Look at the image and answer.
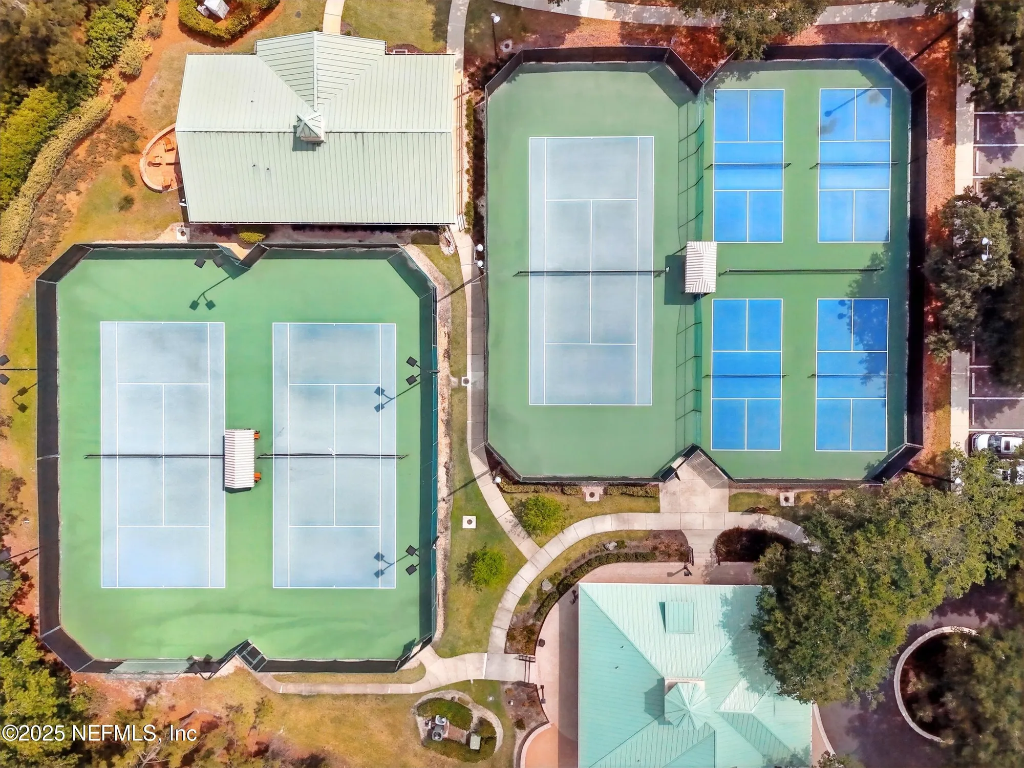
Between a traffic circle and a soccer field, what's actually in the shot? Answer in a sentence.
Of the two, only a traffic circle appears.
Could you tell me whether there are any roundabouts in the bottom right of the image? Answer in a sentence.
Yes, you'll find a roundabout in the bottom right of the image.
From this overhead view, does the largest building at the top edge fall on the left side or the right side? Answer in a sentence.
The largest building at the top edge sits on the left side.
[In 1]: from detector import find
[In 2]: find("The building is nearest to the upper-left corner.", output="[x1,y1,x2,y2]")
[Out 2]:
[175,31,456,227]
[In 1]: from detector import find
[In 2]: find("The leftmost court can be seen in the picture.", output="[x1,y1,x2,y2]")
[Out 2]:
[101,322,225,588]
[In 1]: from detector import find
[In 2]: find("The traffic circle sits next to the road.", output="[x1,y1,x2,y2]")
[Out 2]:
[893,625,1011,742]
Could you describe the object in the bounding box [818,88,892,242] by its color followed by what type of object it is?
blue sports court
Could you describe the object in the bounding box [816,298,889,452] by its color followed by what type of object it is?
blue sports court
